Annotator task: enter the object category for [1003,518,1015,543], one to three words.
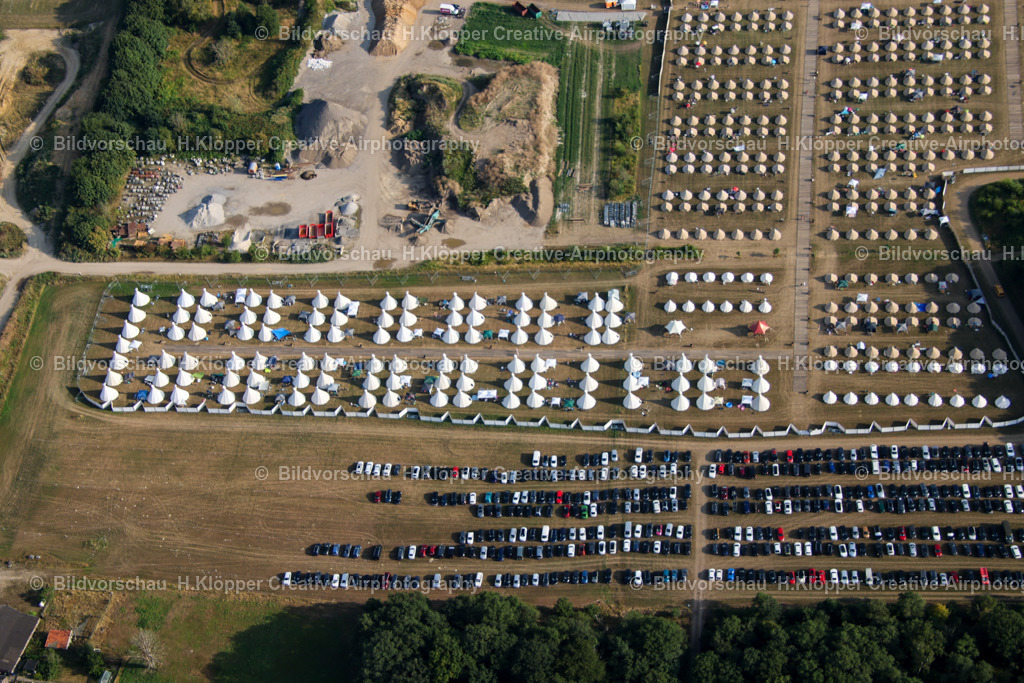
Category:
vehicle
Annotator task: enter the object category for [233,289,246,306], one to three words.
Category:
gazebo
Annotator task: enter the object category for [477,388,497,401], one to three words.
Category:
gazebo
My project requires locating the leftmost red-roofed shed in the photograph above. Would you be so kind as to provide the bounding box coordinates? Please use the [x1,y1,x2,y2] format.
[44,630,72,653]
